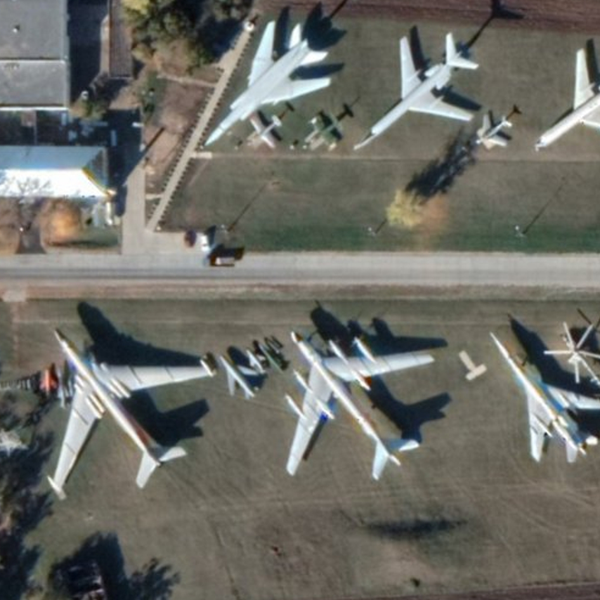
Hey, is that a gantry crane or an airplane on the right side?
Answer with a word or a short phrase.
airplane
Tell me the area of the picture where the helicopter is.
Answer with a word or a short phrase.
right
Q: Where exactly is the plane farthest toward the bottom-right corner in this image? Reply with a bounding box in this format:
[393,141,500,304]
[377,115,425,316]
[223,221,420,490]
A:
[489,332,600,464]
